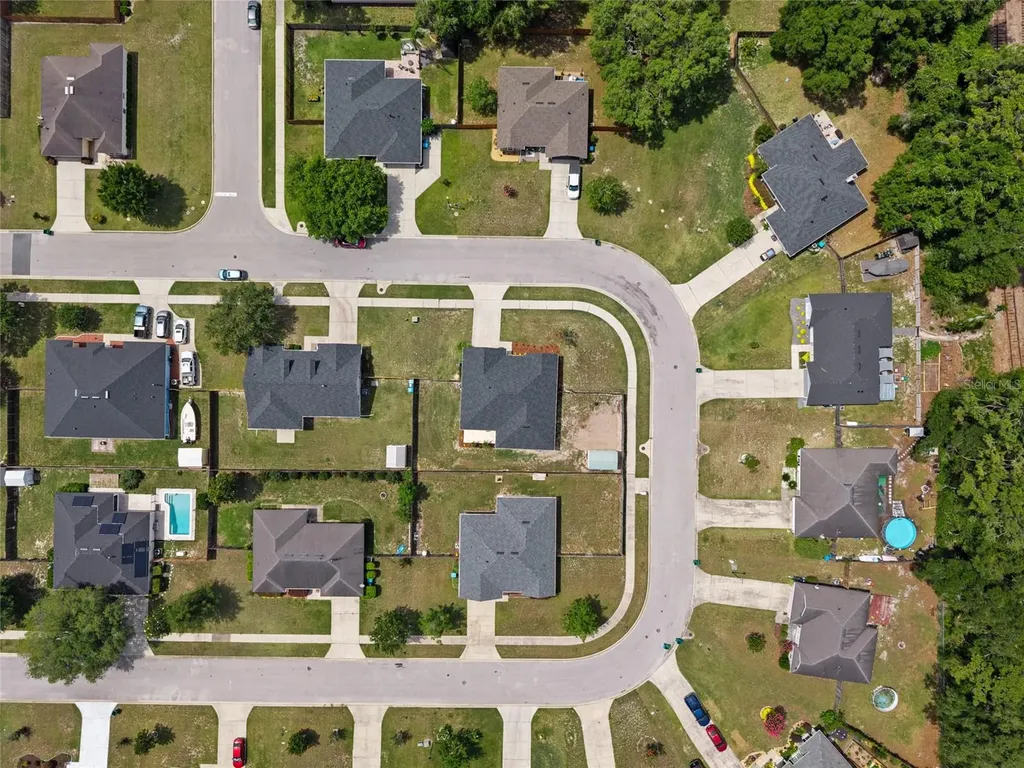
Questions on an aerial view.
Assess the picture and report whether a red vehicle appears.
Yes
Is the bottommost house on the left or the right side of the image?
right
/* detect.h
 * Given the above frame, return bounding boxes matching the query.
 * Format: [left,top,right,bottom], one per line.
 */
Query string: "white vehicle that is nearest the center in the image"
[567,163,580,199]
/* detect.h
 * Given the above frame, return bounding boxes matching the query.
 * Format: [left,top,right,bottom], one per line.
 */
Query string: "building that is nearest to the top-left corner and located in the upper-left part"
[40,43,129,158]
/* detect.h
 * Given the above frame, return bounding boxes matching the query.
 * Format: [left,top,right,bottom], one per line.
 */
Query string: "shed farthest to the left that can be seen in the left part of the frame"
[4,468,41,486]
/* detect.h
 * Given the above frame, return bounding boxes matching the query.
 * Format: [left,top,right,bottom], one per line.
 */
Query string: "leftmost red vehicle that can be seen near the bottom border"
[233,737,247,767]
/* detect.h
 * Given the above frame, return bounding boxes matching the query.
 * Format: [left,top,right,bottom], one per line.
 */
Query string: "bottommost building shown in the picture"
[774,727,849,768]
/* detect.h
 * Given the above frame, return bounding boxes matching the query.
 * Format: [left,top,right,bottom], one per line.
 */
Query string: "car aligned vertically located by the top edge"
[247,1,261,30]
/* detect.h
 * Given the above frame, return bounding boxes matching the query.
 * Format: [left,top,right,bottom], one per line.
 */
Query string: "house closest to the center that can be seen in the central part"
[460,347,559,449]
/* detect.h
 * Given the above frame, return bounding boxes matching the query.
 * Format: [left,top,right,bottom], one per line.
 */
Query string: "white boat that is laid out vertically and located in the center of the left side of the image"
[181,396,198,442]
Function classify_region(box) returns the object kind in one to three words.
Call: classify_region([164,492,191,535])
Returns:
swimming pool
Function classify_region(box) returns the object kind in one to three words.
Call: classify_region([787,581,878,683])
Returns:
house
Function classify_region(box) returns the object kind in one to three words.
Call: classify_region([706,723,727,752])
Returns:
car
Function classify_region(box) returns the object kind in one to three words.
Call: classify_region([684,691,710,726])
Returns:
truck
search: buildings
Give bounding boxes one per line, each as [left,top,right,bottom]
[774,727,849,768]
[40,43,129,158]
[787,581,878,683]
[903,426,923,436]
[459,497,557,601]
[587,450,618,470]
[324,60,422,168]
[803,292,893,406]
[53,492,155,595]
[178,447,209,467]
[386,444,408,468]
[45,340,171,439]
[243,344,362,430]
[890,233,918,253]
[252,509,365,597]
[790,447,898,540]
[4,468,41,486]
[755,114,869,257]
[460,347,559,449]
[496,66,589,164]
